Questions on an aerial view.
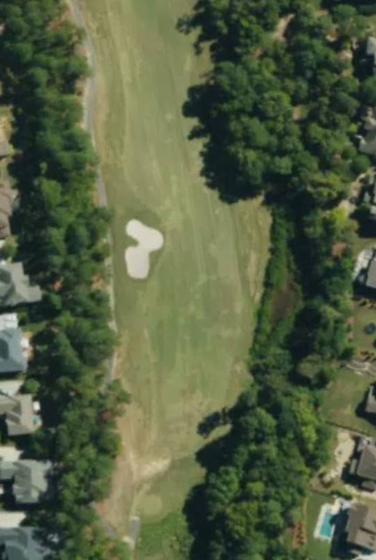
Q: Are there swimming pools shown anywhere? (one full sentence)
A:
Yes, looking at the shot, I can spot a swimming pool.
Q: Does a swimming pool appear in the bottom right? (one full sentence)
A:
Yes, a swimming pool can be seen in the bottom right.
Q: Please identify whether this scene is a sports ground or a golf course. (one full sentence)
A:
This looks like a golf course.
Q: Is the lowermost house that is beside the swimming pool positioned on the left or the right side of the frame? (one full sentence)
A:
The lowermost house that is beside the swimming pool is on the right side of the image.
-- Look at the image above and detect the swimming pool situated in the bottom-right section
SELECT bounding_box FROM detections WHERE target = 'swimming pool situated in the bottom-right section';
[314,498,343,543]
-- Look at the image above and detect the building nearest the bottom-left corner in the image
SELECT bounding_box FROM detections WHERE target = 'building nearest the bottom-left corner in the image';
[0,525,49,560]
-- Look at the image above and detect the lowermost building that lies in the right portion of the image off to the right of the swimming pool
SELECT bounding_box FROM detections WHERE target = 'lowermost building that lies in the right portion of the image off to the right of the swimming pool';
[343,502,376,552]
